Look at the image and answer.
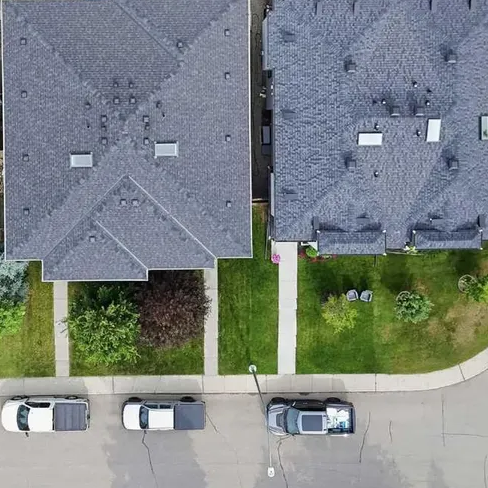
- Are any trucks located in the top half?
No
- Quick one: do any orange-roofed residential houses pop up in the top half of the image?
No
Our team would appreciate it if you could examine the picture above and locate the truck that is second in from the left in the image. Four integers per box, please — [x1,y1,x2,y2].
[123,398,205,438]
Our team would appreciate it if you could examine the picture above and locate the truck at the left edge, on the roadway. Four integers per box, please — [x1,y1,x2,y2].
[1,397,91,440]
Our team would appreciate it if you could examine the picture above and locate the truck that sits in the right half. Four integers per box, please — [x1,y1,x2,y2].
[270,398,358,441]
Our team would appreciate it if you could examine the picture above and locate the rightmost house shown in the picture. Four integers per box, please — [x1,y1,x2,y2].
[261,0,488,255]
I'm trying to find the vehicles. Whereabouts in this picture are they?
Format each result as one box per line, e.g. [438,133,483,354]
[270,398,358,441]
[1,397,91,440]
[123,398,205,438]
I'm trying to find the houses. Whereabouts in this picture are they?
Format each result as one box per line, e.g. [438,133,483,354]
[0,0,253,282]
[261,0,488,255]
